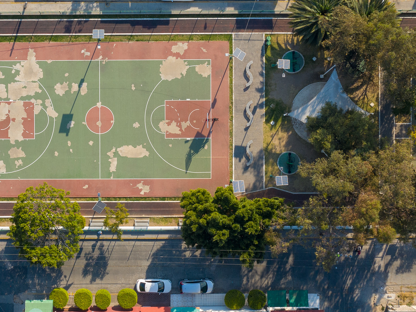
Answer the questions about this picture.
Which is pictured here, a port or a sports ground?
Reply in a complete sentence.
This looks like a sports ground.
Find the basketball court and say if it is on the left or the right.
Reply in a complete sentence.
It is on the left.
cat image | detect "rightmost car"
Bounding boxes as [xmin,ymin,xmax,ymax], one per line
[179,277,214,295]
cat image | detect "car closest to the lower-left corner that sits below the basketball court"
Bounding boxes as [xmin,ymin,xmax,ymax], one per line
[136,277,172,295]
